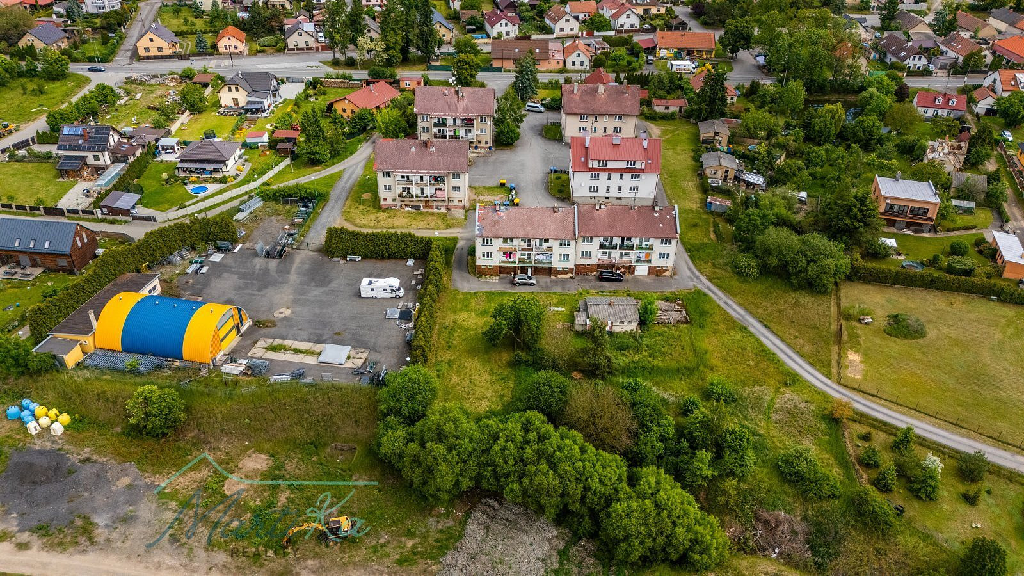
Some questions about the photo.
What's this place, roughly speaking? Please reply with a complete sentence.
It's a residential area.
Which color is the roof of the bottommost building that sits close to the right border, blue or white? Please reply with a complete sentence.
The roof of the bottommost building that sits close to the right border is white.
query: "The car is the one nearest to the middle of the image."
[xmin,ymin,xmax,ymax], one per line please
[511,274,537,287]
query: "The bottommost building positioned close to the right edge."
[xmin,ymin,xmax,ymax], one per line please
[971,229,1024,280]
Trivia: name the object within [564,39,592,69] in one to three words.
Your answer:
house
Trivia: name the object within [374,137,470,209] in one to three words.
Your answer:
building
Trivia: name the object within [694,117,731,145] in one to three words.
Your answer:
shed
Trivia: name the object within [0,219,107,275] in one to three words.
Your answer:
barn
